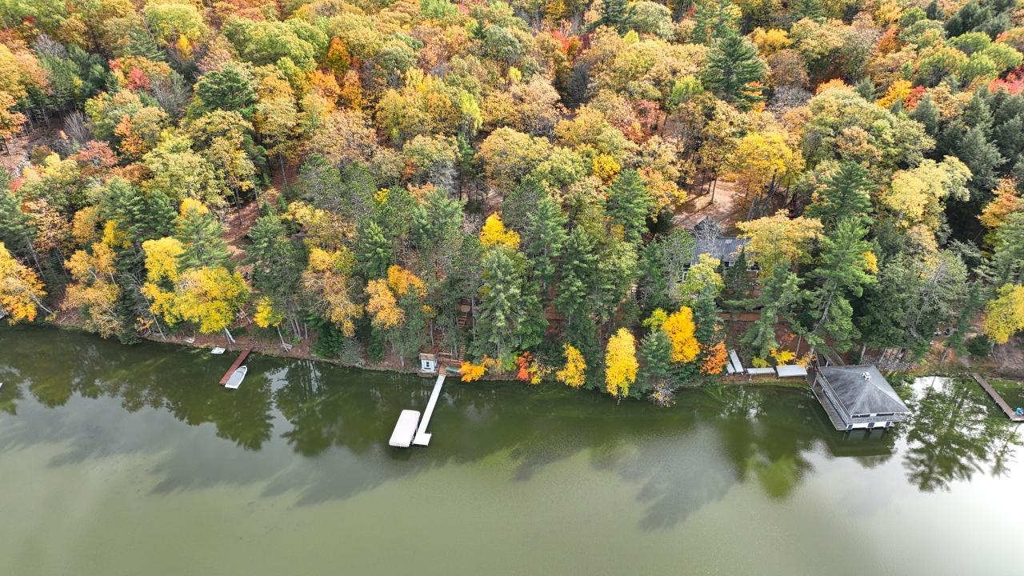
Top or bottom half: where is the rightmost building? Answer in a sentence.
It is in the bottom half that the rightmost building appears.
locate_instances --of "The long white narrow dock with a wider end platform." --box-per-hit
[411,378,443,449]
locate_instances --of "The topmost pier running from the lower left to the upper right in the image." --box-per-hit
[219,334,262,387]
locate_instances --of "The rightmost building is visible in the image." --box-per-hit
[793,350,913,442]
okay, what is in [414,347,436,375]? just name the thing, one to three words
shed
